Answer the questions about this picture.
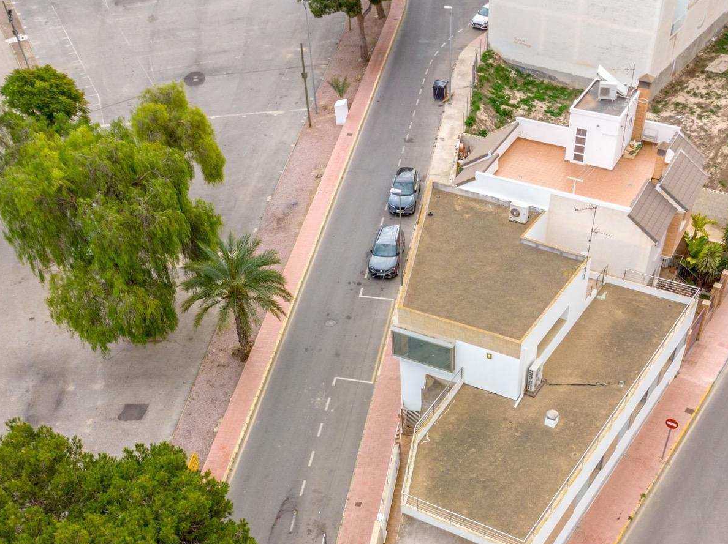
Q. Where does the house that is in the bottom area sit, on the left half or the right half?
right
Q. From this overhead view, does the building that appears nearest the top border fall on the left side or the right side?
right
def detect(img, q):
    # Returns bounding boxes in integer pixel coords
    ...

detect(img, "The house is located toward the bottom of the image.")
[370,181,700,544]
